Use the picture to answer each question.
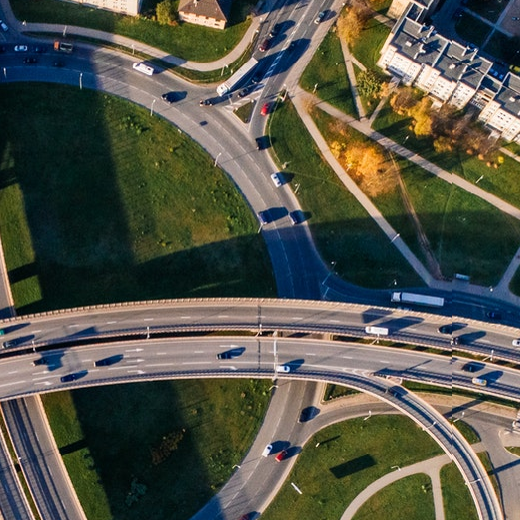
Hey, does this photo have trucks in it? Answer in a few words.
Yes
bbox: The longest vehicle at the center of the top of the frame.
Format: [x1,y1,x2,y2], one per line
[218,54,260,96]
